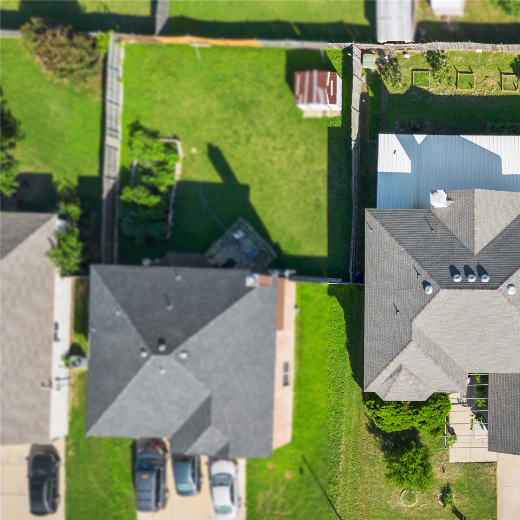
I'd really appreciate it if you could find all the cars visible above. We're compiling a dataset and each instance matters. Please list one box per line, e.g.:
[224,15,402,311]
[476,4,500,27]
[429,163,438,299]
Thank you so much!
[26,447,63,512]
[172,454,204,494]
[208,458,242,520]
[134,440,169,507]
